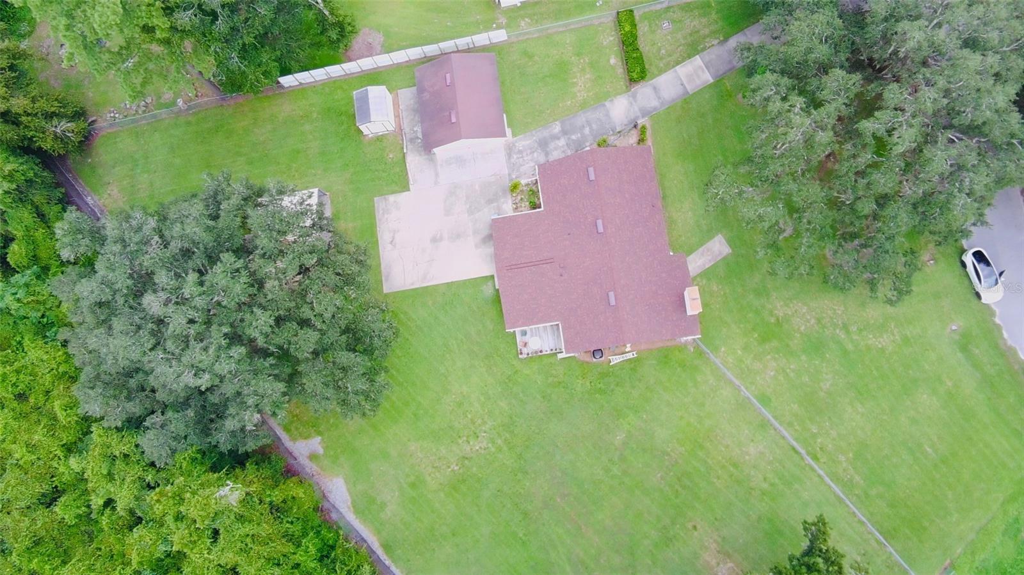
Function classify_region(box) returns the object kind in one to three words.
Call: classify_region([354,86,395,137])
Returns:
shed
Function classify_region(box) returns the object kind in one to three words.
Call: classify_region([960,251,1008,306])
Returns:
car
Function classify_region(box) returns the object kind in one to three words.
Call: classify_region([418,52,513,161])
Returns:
building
